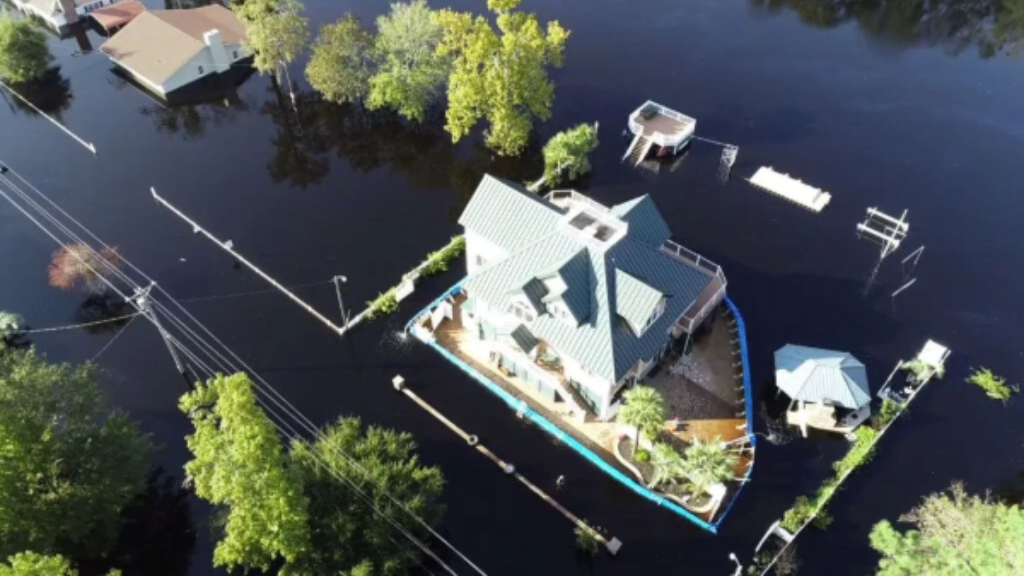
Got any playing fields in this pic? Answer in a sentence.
No, the frame has no playing field in it.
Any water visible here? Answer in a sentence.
Yes, there is water in the image.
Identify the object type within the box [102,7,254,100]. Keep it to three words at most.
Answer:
house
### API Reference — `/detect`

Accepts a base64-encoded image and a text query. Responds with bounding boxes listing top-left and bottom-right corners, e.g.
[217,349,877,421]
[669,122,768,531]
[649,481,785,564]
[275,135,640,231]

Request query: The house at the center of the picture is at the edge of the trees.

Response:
[457,171,726,425]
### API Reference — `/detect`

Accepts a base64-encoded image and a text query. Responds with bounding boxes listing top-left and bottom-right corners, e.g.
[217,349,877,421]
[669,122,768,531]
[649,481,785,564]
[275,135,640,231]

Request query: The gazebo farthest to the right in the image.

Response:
[770,344,871,435]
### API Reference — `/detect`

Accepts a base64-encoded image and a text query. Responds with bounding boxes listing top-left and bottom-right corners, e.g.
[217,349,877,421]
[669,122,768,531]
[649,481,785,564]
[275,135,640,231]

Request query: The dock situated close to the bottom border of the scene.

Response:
[602,534,625,559]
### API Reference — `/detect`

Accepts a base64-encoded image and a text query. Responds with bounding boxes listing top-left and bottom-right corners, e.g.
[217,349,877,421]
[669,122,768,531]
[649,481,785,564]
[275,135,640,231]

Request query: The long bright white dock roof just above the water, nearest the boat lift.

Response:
[742,167,831,215]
